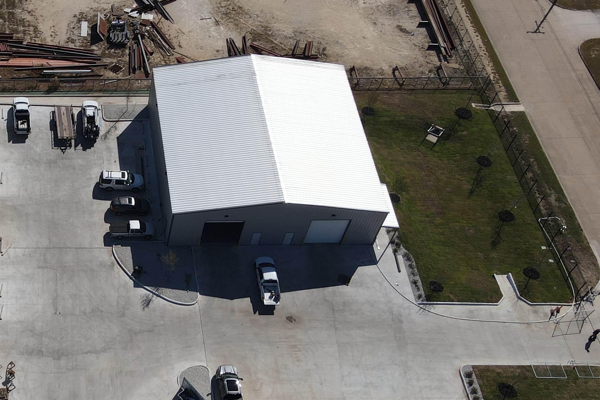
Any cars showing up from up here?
Yes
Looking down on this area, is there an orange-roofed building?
No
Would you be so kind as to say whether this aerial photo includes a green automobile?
No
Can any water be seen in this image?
No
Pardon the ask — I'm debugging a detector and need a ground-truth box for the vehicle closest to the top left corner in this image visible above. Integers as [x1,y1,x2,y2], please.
[12,97,34,139]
